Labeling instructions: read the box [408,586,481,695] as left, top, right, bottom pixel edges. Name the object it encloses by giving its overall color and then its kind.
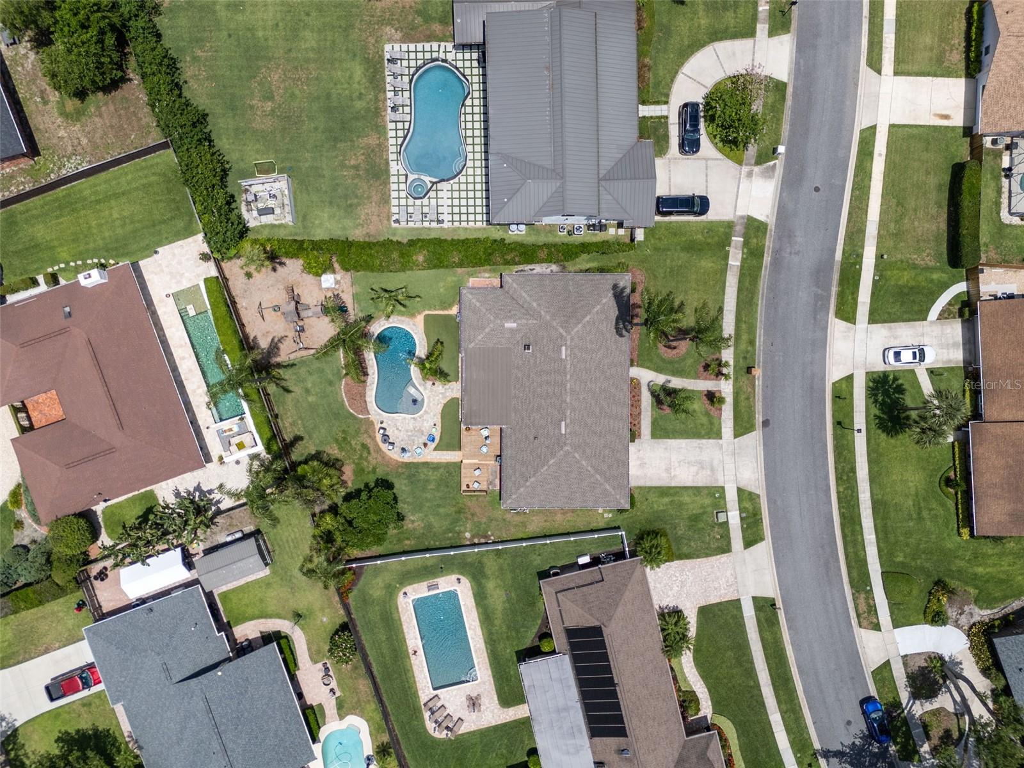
blue swimming pool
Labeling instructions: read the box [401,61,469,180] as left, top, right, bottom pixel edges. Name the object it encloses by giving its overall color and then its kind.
blue swimming pool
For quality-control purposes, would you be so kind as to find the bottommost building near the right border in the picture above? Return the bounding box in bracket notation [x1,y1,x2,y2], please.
[988,629,1024,713]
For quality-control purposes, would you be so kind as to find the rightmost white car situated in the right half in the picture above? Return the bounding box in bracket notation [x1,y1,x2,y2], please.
[883,343,936,367]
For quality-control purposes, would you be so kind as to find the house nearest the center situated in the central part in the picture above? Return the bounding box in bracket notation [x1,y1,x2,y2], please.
[460,273,631,510]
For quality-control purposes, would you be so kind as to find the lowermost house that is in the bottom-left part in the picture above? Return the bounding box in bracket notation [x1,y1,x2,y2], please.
[81,584,319,768]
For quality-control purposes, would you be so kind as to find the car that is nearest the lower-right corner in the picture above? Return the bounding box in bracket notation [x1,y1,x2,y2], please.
[858,695,895,747]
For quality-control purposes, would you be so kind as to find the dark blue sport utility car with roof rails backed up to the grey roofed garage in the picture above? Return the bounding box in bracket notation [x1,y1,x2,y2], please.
[655,192,709,217]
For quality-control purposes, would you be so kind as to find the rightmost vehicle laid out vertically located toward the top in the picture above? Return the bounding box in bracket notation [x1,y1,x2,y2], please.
[679,100,705,156]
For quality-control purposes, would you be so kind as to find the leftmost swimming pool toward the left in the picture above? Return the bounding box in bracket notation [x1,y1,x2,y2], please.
[170,282,248,426]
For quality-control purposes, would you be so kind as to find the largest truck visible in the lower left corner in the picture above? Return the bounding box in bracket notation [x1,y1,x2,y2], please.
[43,663,101,701]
